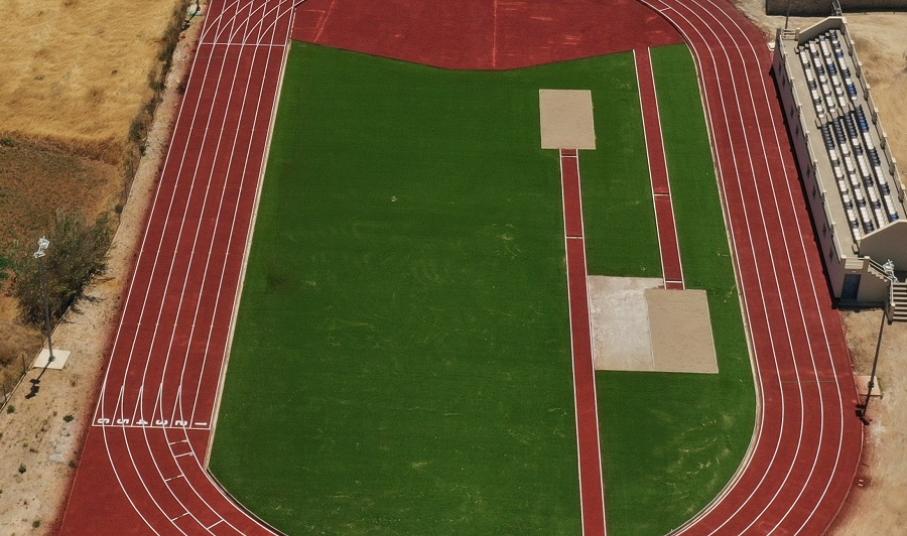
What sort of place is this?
sports ground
